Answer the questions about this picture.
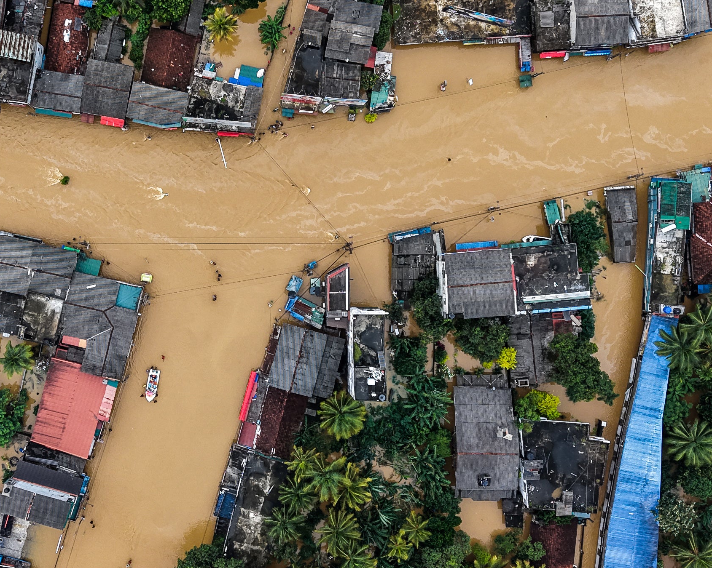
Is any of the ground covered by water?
Yes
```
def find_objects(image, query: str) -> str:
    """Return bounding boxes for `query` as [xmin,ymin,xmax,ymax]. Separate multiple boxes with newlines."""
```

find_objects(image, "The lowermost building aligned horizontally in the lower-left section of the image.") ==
[0,487,82,531]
